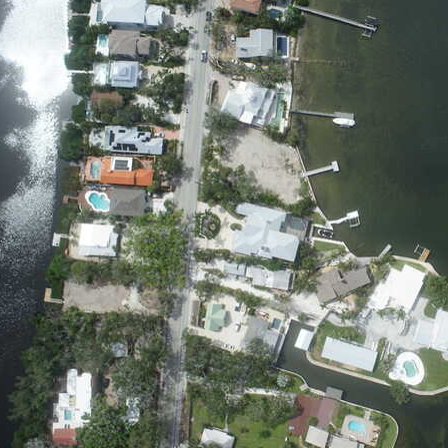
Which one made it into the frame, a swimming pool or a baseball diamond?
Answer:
swimming pool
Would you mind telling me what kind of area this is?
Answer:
residential area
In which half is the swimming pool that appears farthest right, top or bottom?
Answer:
bottom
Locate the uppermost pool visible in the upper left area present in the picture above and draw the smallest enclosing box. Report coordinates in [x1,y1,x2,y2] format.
[90,0,105,25]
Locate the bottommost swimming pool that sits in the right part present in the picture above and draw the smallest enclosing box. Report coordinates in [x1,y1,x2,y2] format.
[341,415,381,447]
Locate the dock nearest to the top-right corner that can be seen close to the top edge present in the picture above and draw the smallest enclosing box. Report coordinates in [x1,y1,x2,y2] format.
[298,6,378,32]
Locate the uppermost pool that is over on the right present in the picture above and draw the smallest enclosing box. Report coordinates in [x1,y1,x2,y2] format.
[265,6,287,21]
